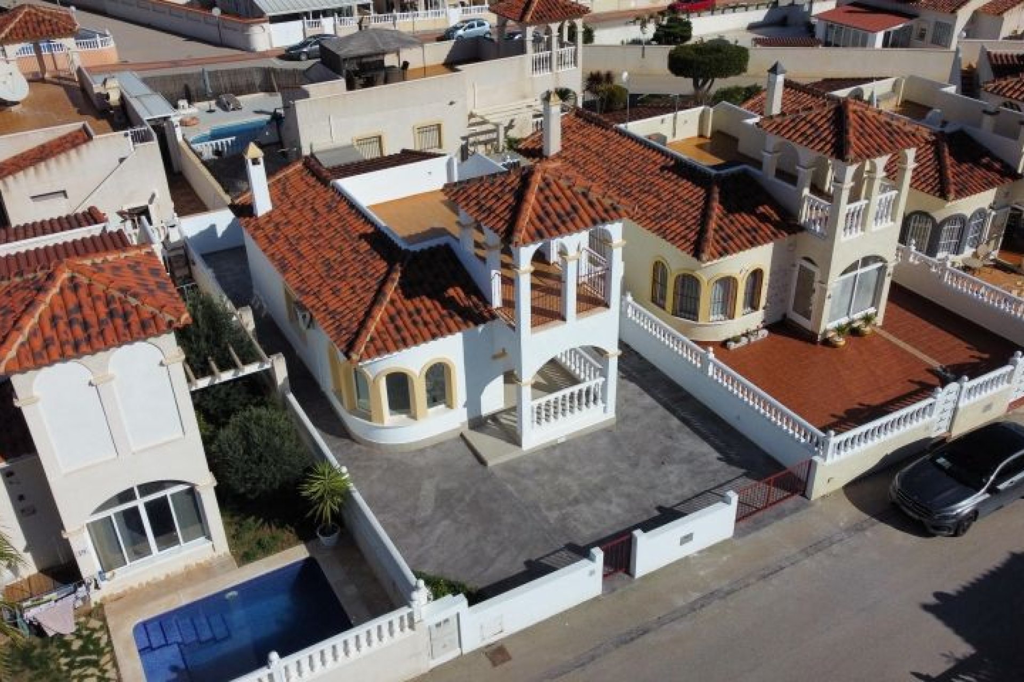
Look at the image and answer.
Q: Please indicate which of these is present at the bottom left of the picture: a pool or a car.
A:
pool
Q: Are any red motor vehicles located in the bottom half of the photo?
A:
No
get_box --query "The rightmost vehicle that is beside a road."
[886,418,1024,533]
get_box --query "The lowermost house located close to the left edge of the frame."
[0,203,231,615]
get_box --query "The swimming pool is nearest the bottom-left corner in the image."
[135,558,354,682]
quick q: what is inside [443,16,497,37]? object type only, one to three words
car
